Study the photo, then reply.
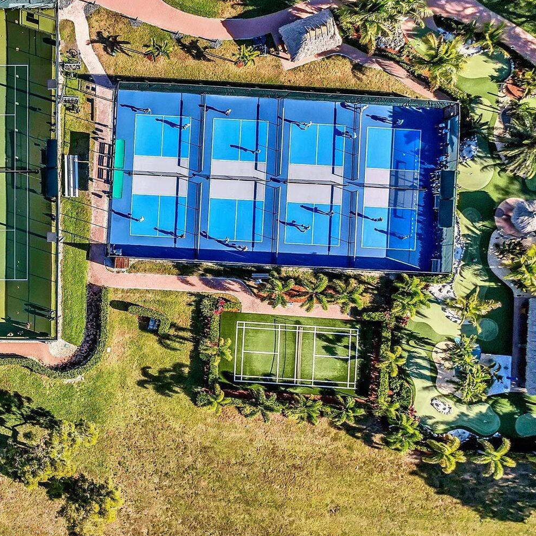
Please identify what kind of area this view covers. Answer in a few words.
sports ground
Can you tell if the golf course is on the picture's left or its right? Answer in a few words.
right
